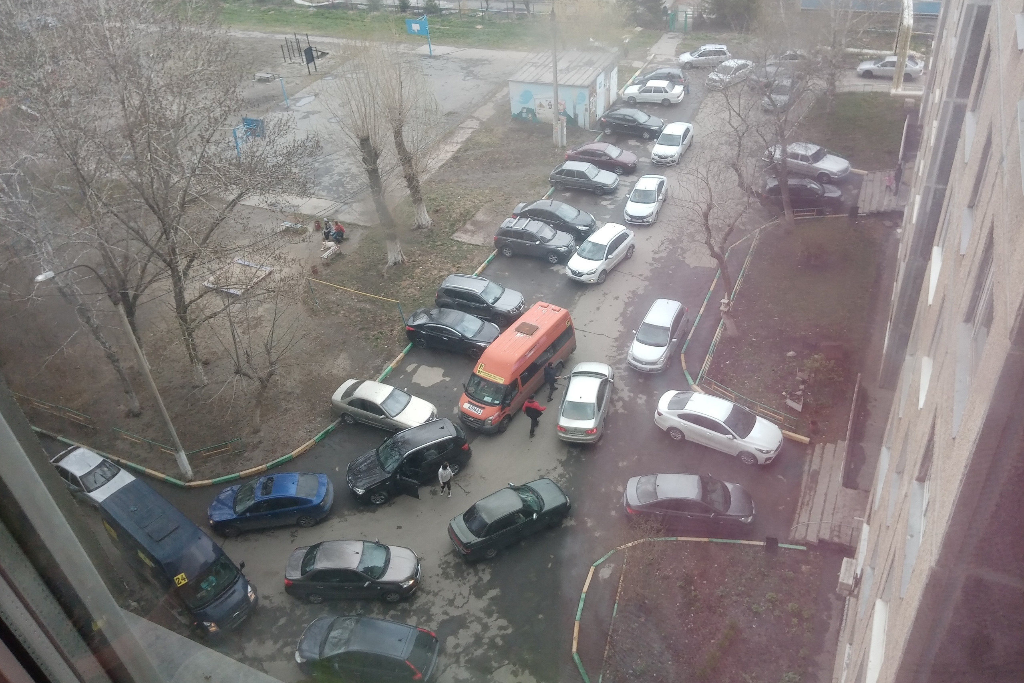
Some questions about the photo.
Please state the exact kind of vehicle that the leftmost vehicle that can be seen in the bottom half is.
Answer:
automobile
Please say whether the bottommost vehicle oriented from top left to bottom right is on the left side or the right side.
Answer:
left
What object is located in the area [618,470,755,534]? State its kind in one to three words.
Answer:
car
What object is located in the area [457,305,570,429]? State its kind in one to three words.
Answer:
vehicle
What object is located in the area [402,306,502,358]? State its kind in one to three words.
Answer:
car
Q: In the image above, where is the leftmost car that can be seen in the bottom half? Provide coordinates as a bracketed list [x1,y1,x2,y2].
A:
[45,445,144,520]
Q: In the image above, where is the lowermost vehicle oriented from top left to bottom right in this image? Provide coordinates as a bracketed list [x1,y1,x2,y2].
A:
[102,483,255,639]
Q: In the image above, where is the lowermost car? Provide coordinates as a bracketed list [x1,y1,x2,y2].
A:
[292,612,448,683]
